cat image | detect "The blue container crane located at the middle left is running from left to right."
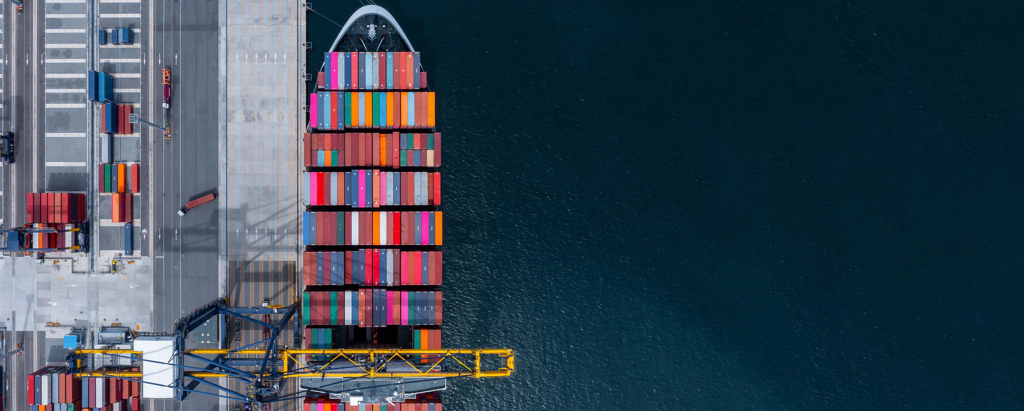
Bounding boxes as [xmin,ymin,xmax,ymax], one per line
[0,221,92,254]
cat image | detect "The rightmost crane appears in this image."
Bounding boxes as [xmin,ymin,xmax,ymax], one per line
[66,285,519,411]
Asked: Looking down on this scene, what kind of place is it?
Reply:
port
